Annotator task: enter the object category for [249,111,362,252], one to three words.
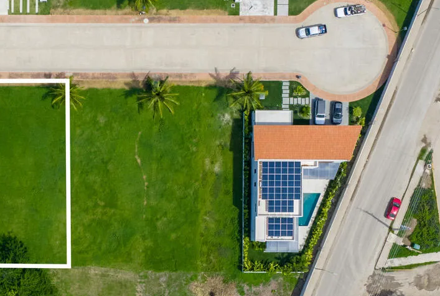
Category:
house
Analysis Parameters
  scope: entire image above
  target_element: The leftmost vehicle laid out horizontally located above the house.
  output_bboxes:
[295,23,328,38]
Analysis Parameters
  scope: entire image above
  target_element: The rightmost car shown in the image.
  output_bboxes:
[384,195,401,221]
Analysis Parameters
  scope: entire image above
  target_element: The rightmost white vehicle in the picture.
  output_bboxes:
[334,2,366,17]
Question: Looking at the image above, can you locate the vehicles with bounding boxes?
[314,98,326,125]
[384,195,401,221]
[334,2,366,17]
[295,23,328,38]
[330,100,343,125]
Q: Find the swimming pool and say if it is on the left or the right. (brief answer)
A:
right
